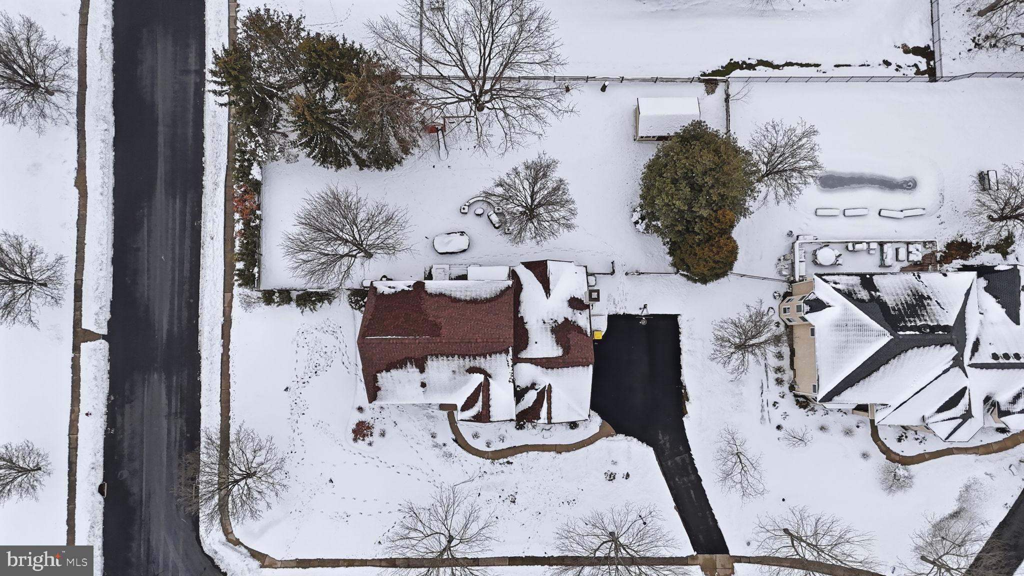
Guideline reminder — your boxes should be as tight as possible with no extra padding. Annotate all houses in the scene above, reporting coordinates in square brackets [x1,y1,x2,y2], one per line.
[357,261,600,425]
[780,268,1024,444]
